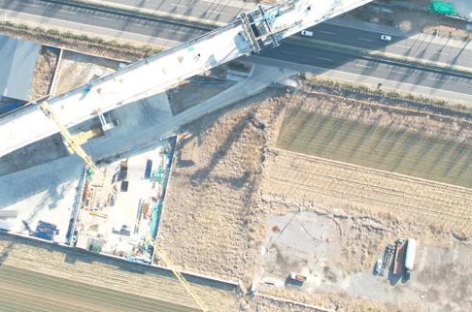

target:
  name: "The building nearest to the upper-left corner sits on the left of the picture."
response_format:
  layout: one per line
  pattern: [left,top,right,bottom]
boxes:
[0,36,41,102]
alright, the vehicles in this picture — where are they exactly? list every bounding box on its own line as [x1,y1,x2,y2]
[403,238,420,276]
[383,241,397,276]
[379,35,391,41]
[300,30,313,37]
[290,273,307,284]
[393,240,407,275]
